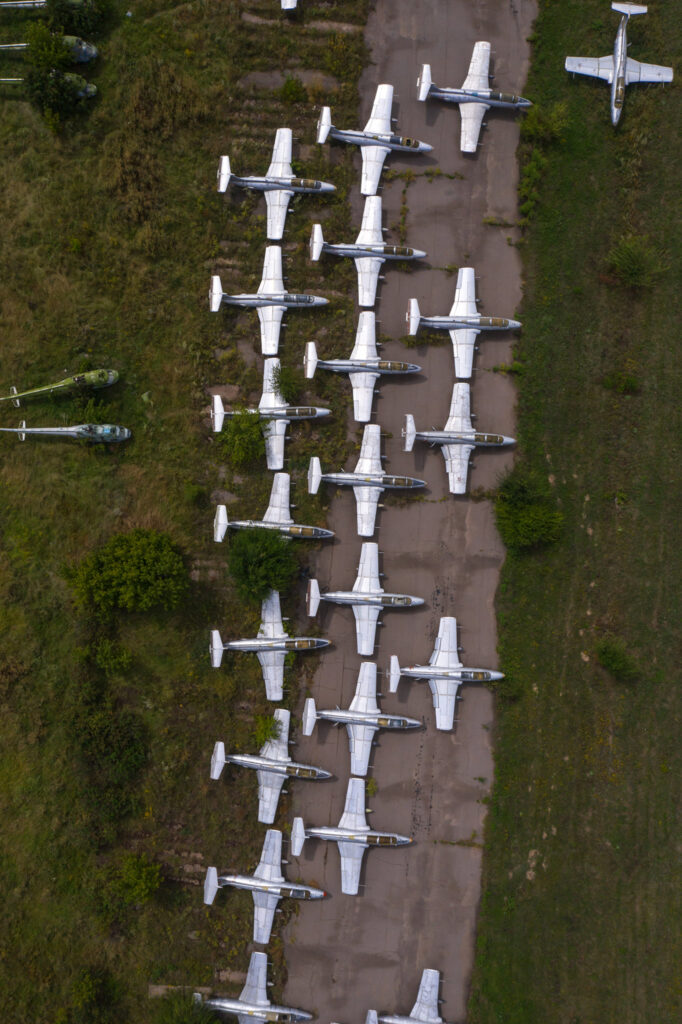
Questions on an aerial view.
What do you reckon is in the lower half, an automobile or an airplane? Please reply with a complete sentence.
There is an airplane in the lower half.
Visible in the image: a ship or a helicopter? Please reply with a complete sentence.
There is a helicopter in the scene.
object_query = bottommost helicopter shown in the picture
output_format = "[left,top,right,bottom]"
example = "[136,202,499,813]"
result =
[0,420,132,446]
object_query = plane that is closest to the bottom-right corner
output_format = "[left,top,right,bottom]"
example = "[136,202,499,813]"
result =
[364,969,456,1024]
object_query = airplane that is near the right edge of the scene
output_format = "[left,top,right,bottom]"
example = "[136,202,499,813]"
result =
[564,1,675,127]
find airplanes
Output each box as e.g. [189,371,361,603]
[212,359,331,469]
[304,311,422,422]
[387,617,504,730]
[189,952,311,1024]
[215,473,334,581]
[218,130,336,239]
[401,383,517,494]
[210,588,331,701]
[211,709,332,823]
[564,1,675,127]
[406,268,522,378]
[281,0,298,10]
[210,245,329,355]
[292,779,412,893]
[204,829,326,944]
[364,969,456,1024]
[303,662,422,776]
[317,85,433,194]
[309,196,426,306]
[418,43,532,151]
[308,424,426,536]
[306,543,425,655]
